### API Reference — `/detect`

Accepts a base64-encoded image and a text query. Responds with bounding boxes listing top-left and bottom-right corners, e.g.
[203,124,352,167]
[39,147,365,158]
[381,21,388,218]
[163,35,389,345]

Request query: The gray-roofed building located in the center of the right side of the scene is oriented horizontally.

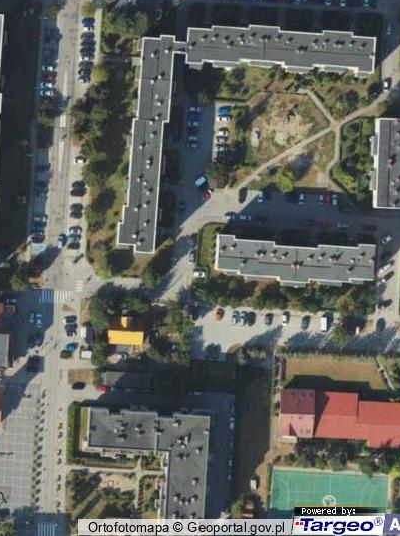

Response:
[212,235,375,286]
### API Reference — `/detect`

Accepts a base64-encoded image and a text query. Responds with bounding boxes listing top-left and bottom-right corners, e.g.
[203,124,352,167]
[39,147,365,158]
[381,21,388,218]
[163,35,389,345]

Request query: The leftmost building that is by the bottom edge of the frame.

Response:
[83,406,210,536]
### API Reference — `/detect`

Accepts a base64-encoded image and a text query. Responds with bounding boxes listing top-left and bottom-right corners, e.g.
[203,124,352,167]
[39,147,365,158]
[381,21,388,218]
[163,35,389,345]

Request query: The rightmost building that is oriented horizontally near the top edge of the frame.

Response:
[185,25,375,79]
